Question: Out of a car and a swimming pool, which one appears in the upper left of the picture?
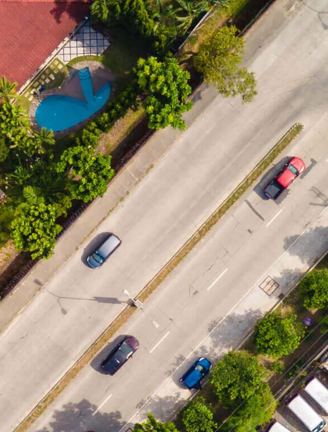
swimming pool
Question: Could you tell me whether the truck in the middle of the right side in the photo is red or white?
red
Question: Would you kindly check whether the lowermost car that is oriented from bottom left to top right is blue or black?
blue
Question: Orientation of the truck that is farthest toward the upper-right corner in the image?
diagonally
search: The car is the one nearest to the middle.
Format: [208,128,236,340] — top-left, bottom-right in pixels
[89,233,121,270]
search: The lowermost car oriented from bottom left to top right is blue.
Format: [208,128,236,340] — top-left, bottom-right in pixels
[181,357,211,389]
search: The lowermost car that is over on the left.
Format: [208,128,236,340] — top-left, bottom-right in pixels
[102,336,141,375]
